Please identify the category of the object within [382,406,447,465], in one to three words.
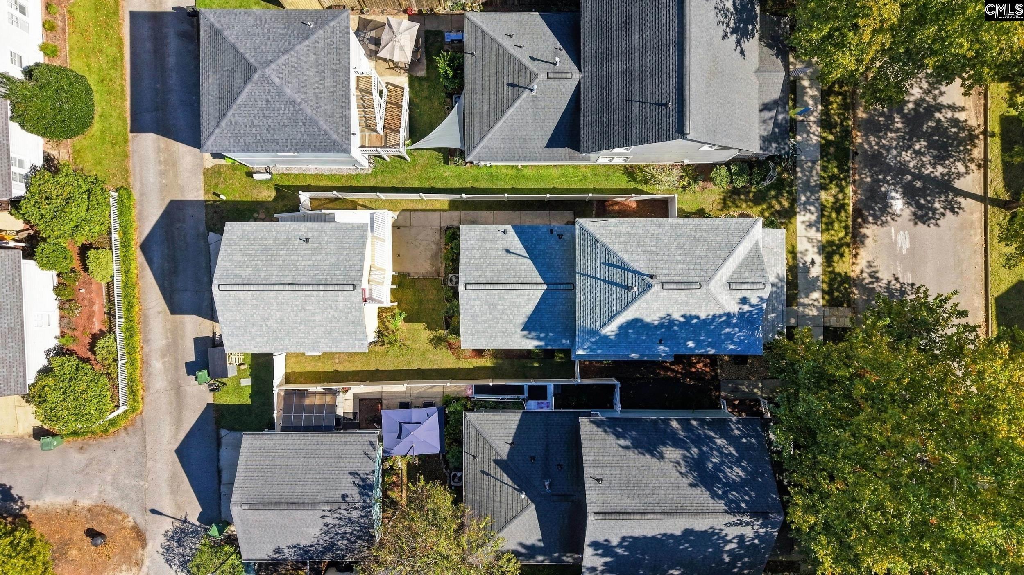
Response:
umbrella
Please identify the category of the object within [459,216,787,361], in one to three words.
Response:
house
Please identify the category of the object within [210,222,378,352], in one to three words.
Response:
building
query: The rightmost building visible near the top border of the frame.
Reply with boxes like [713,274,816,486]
[463,0,790,170]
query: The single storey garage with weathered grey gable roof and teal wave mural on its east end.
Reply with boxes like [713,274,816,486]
[229,429,384,564]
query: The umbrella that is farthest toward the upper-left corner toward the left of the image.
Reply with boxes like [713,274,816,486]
[377,16,420,64]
